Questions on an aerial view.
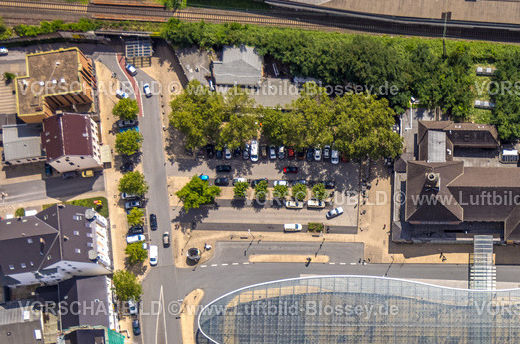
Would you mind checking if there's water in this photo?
No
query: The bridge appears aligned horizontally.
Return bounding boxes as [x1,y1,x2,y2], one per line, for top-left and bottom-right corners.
[91,0,161,33]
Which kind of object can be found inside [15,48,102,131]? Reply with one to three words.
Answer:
building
